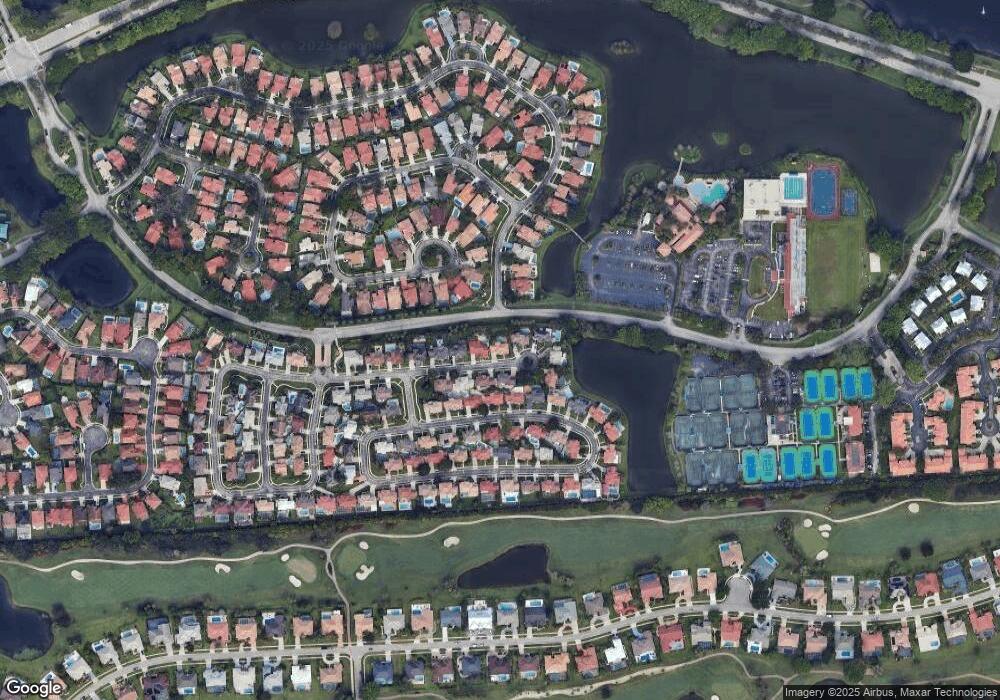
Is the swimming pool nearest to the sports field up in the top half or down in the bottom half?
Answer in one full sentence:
The top half of the photo is where the swimming pool nearest to the sports field is.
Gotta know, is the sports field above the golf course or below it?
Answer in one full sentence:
Looking at the photo, you'll find the sports field above the golf course.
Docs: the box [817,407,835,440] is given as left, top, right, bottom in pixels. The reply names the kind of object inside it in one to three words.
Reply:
tennis court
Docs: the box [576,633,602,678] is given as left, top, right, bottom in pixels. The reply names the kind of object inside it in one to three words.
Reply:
house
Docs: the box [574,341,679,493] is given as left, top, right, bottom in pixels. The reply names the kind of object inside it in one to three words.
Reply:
pond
